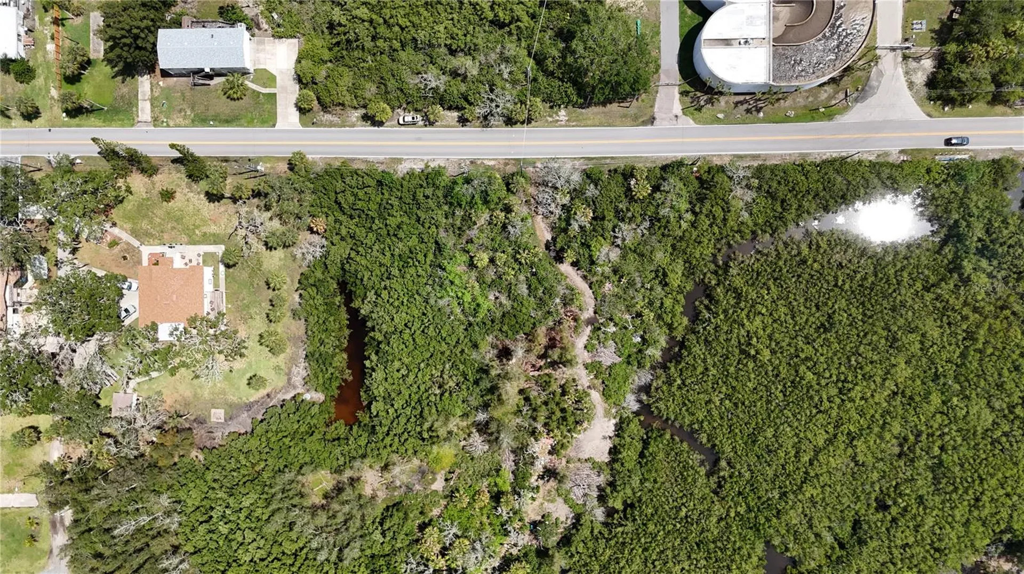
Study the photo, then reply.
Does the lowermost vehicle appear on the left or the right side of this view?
left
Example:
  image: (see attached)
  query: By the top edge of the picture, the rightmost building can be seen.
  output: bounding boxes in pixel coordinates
[155,14,255,85]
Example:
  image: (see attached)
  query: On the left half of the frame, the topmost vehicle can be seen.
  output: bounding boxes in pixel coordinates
[397,112,421,125]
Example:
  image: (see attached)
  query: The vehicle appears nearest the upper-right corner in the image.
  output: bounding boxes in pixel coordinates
[946,134,971,146]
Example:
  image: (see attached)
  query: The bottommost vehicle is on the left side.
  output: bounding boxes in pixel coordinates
[112,301,138,324]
